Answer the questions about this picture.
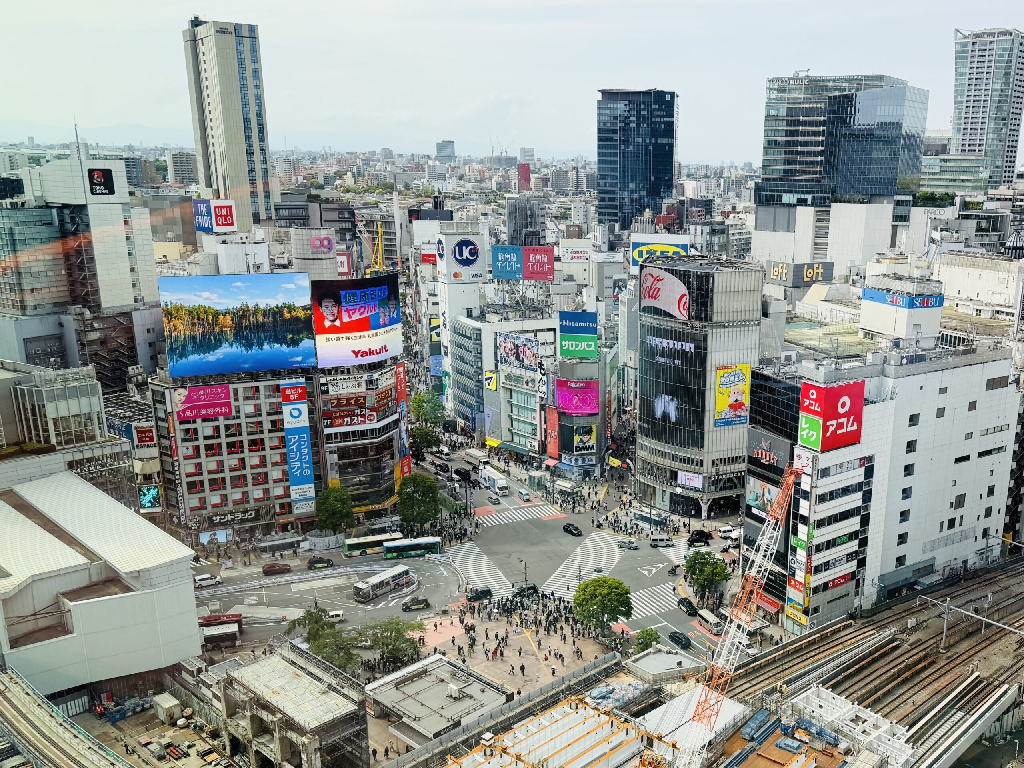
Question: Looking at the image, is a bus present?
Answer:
Yes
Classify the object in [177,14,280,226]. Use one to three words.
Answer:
building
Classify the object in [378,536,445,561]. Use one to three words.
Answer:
bus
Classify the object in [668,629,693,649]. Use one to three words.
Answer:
car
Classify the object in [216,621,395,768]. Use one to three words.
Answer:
building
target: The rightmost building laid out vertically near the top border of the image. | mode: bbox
[946,19,1024,255]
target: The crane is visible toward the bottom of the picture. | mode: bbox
[601,443,824,768]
